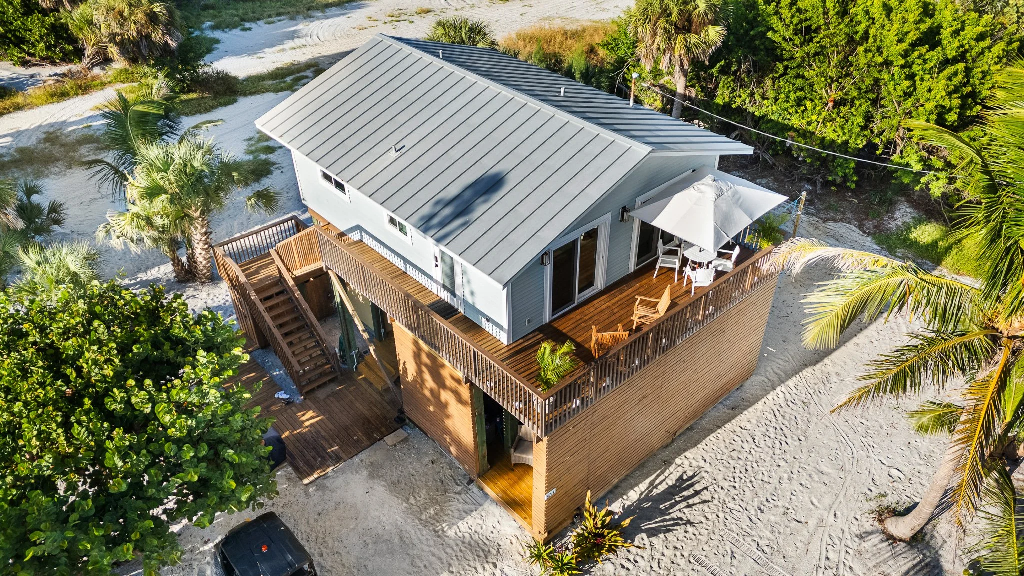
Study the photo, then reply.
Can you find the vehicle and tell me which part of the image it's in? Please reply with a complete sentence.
The vehicle sits in the bottom left section of the image.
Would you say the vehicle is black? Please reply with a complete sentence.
Yes, the vehicle appears black.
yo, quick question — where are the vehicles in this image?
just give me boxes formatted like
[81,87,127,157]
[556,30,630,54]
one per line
[209,514,320,576]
